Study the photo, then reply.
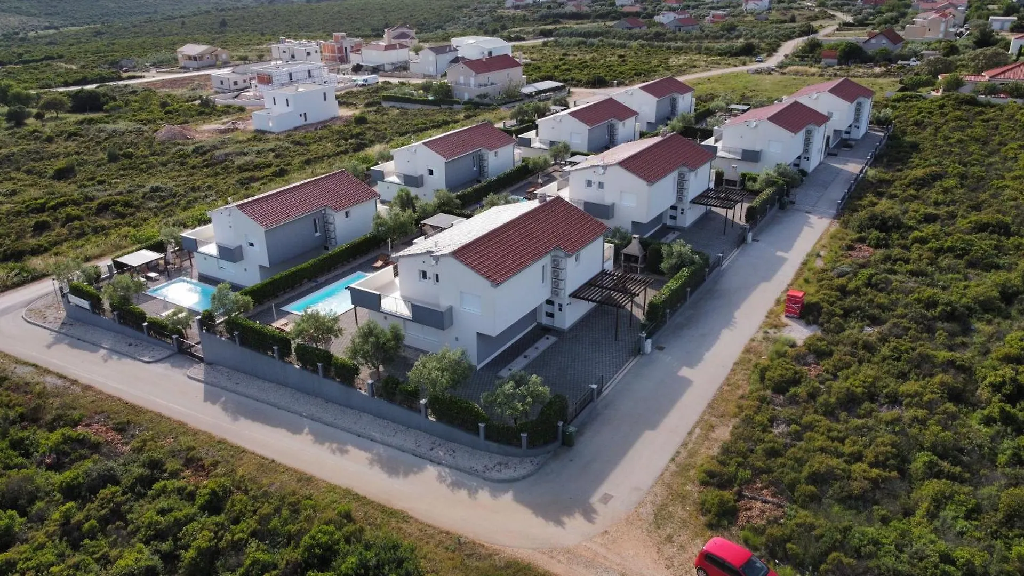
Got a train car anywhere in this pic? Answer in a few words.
No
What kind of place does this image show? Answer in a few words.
residential area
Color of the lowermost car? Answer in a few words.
red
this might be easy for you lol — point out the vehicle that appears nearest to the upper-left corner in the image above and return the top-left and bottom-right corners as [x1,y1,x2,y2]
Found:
[351,71,379,85]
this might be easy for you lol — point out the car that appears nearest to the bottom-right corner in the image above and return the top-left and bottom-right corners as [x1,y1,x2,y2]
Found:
[692,539,769,576]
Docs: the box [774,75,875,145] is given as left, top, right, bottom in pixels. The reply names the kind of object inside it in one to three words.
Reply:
house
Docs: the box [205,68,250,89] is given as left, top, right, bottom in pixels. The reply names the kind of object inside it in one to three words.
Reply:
house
